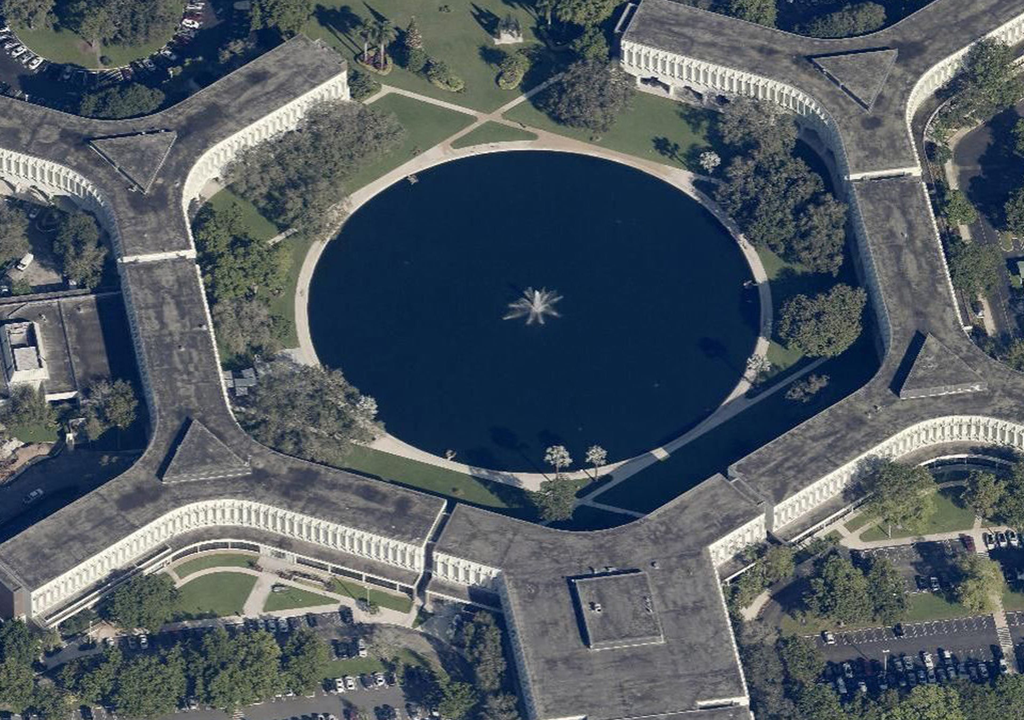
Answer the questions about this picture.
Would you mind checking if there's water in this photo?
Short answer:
Yes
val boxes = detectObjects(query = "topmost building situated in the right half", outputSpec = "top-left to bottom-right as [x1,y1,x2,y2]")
[621,0,1024,211]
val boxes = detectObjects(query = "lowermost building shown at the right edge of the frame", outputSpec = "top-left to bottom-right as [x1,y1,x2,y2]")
[728,172,1024,550]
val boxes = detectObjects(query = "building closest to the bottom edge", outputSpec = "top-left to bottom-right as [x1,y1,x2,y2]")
[425,473,767,720]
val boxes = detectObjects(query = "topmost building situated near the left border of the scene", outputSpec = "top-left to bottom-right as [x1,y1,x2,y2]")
[0,33,355,294]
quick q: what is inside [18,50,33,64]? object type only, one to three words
car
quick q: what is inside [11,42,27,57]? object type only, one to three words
car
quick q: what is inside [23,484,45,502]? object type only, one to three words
vehicle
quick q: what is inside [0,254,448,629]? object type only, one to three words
building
